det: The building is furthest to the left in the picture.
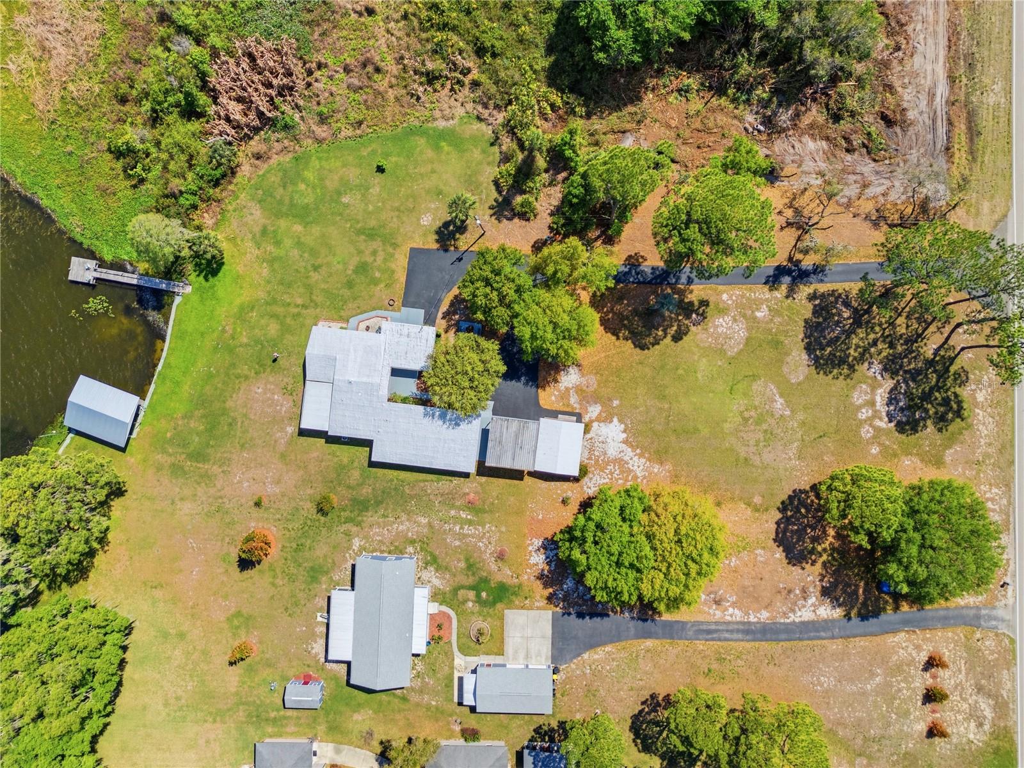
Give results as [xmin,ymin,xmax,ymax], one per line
[63,375,147,448]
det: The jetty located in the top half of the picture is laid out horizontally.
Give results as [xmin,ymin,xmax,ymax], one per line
[68,257,191,296]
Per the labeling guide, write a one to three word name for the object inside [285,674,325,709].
shed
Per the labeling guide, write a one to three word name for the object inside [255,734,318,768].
house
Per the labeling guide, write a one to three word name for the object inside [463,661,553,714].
building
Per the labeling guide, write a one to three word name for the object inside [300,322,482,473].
house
